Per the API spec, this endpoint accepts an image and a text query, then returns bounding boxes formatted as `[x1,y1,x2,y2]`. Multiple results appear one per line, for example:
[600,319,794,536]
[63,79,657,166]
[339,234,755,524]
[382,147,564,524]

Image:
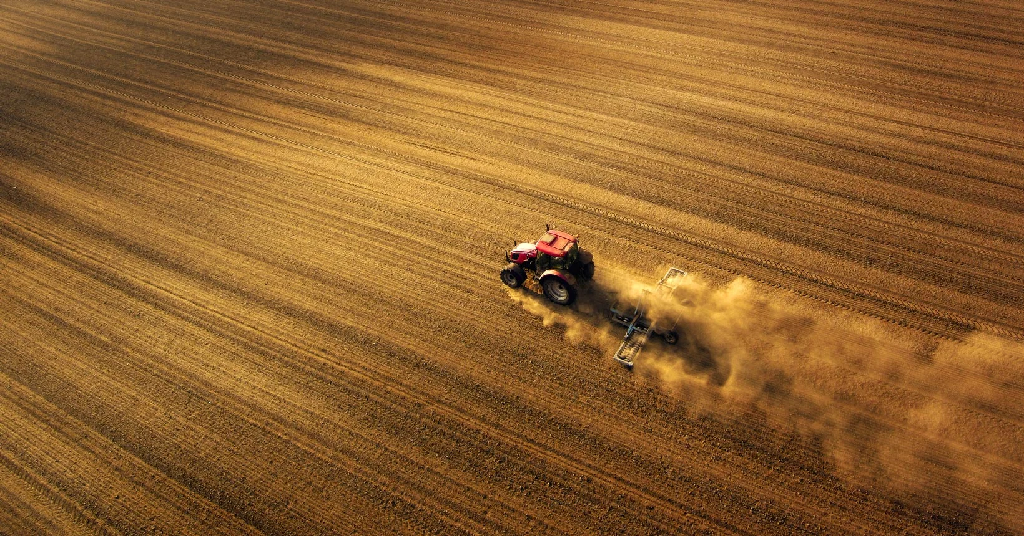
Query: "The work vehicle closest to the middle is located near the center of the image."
[501,223,593,305]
